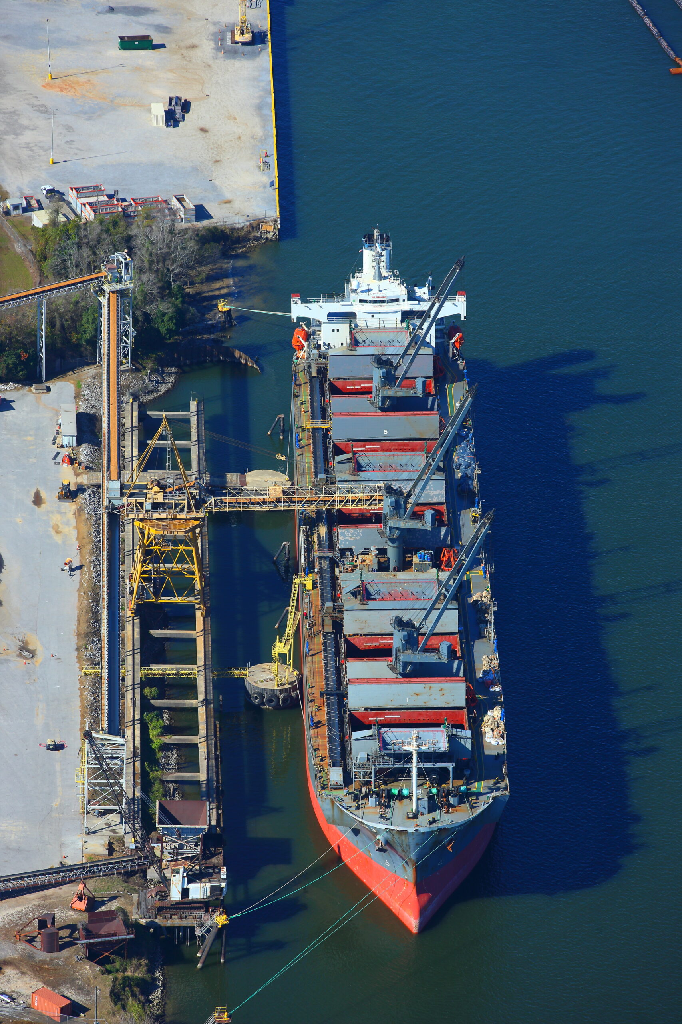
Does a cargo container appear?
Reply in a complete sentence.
Yes, the image includes a cargo container.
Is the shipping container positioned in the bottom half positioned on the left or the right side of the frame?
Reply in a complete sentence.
The shipping container positioned in the bottom half sits on the left side.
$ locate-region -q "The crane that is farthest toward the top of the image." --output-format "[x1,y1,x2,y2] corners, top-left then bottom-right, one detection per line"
[230,0,253,45]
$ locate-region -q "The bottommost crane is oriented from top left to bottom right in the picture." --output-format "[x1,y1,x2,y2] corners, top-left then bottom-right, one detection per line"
[81,722,229,916]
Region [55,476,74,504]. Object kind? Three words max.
work vehicle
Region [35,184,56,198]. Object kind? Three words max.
vehicle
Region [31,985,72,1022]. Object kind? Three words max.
shipping container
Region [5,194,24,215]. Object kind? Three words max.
shed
